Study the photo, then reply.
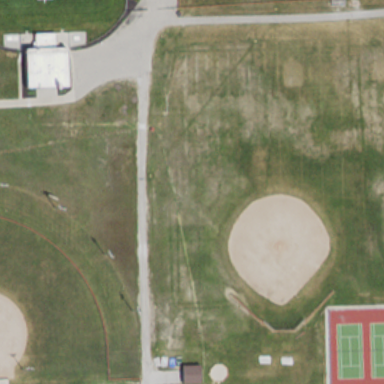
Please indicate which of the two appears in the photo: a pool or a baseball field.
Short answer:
baseball field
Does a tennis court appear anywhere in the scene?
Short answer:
Yes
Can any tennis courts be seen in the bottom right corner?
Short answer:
Yes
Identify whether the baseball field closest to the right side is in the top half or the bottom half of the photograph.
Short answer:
bottom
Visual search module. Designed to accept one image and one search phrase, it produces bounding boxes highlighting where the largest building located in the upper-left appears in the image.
[26,48,70,89]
